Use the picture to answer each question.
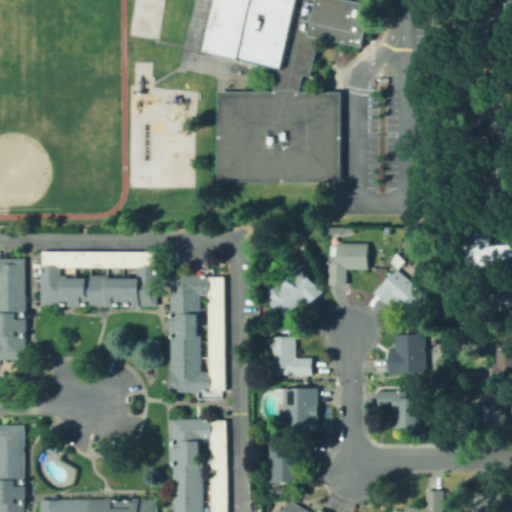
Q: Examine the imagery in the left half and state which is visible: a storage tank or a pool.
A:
pool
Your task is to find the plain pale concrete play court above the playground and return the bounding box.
[130,0,164,40]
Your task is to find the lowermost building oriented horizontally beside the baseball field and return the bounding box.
[40,267,156,307]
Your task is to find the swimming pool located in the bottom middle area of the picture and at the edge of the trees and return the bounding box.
[260,388,286,420]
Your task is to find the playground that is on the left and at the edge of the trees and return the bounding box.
[130,62,200,188]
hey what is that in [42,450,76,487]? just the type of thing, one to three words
swimming pool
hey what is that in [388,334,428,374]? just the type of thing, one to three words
house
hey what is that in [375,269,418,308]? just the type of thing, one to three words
house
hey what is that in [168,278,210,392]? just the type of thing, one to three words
building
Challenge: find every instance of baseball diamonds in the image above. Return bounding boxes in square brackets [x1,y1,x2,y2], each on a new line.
[0,0,121,214]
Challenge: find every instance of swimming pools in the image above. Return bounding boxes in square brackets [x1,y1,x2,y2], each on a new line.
[42,450,76,487]
[260,388,286,420]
